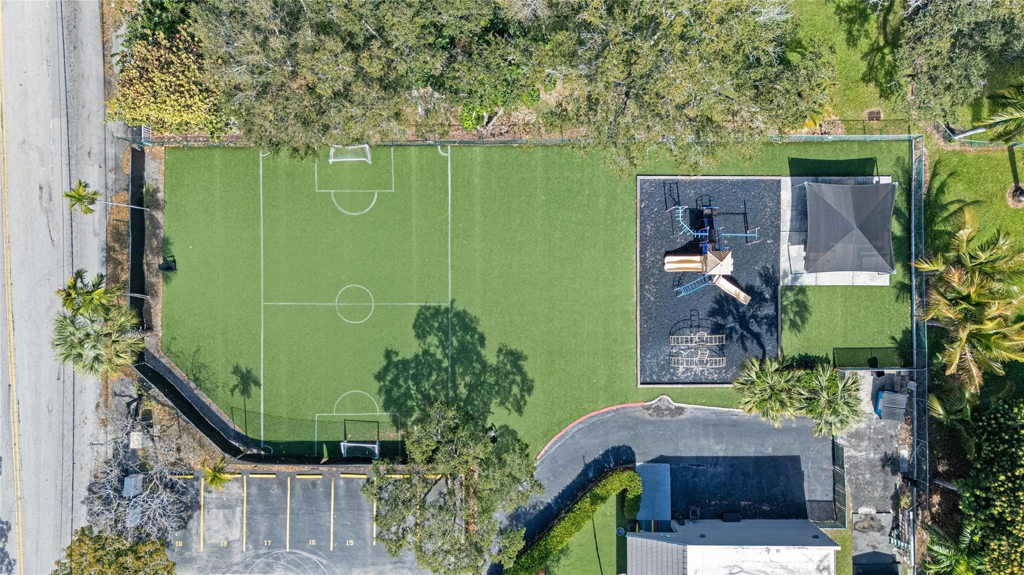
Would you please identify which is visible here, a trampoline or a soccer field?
soccer field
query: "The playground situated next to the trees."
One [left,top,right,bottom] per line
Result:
[637,175,782,388]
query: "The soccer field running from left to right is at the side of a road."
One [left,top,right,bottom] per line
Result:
[161,142,912,467]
